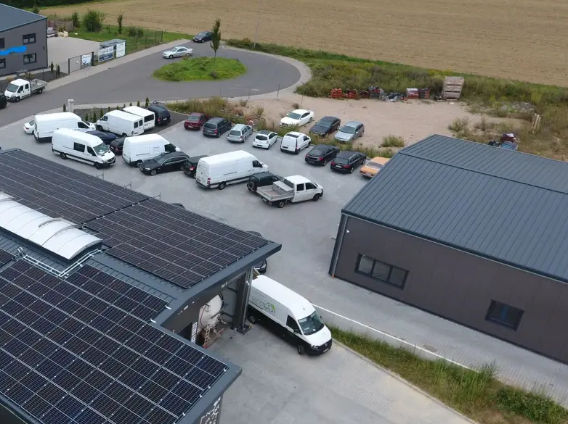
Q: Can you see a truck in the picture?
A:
Yes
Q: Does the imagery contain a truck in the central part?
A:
Yes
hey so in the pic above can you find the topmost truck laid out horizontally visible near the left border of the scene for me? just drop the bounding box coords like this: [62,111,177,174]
[3,79,48,101]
